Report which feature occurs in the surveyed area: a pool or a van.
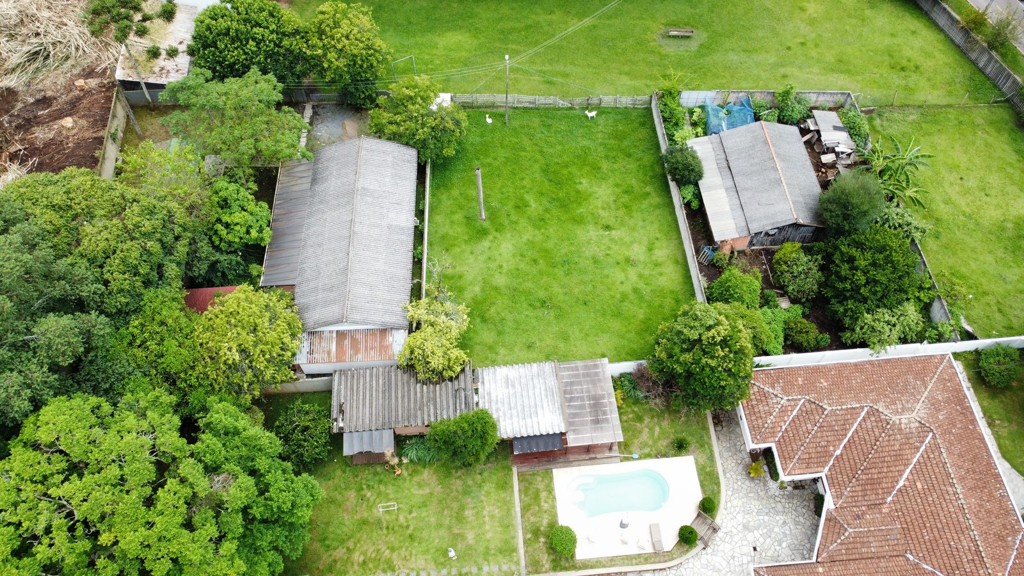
pool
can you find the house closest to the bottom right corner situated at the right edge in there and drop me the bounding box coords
[728,351,1024,576]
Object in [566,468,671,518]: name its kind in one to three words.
swimming pool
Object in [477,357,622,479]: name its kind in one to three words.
building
